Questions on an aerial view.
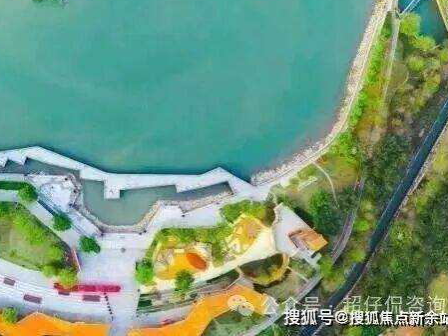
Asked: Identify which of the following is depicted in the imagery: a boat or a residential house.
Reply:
residential house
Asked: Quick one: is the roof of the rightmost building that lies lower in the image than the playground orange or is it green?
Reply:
orange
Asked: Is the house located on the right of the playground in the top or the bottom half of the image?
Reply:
bottom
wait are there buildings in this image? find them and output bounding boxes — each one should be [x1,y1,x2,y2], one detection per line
[0,311,110,336]
[289,228,328,257]
[125,285,268,336]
